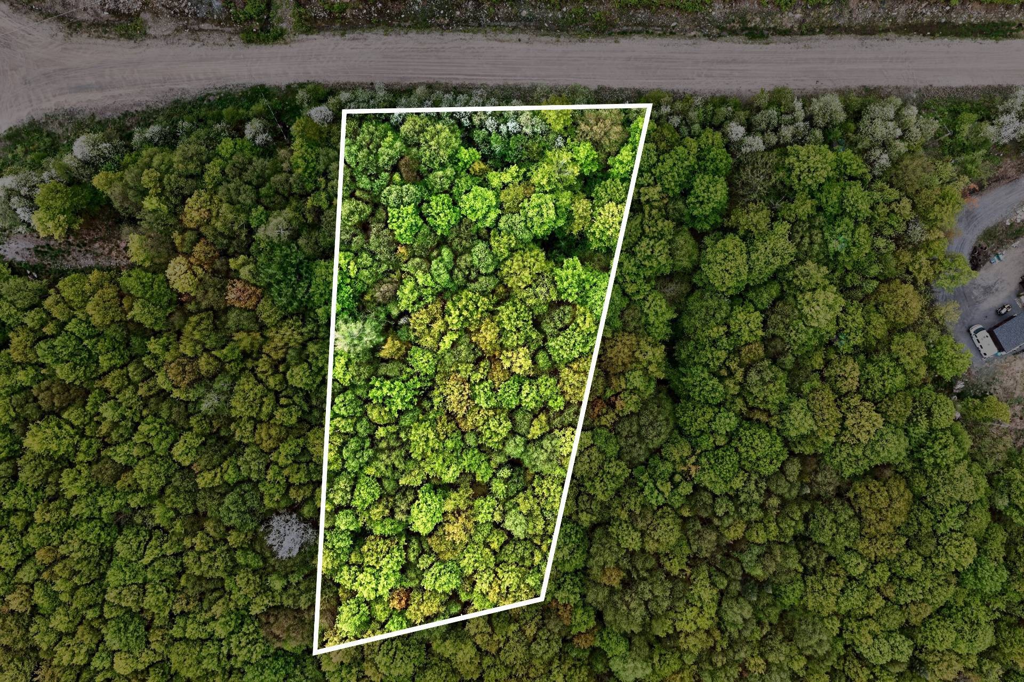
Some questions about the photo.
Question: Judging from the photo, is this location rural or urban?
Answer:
rural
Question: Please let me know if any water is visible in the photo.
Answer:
No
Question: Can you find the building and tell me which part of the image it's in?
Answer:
right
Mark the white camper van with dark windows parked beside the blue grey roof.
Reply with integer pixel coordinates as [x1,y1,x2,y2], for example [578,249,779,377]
[968,323,997,361]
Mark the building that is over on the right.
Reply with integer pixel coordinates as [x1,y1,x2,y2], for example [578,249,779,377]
[984,307,1024,357]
